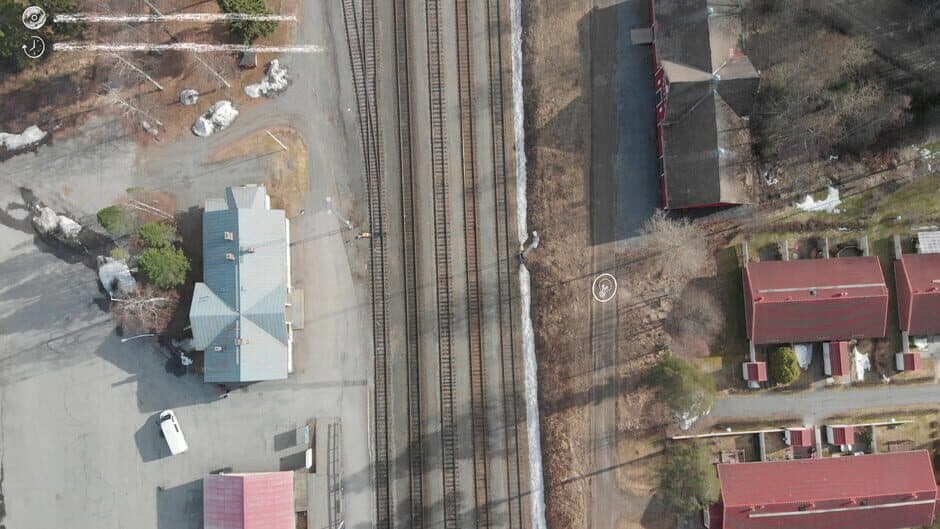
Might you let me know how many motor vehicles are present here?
1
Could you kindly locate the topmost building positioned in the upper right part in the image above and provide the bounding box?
[632,0,758,212]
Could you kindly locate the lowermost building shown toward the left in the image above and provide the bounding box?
[201,470,297,529]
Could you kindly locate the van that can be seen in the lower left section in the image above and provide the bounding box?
[158,405,187,453]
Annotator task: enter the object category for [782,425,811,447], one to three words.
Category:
shed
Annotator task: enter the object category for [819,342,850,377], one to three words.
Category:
shed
